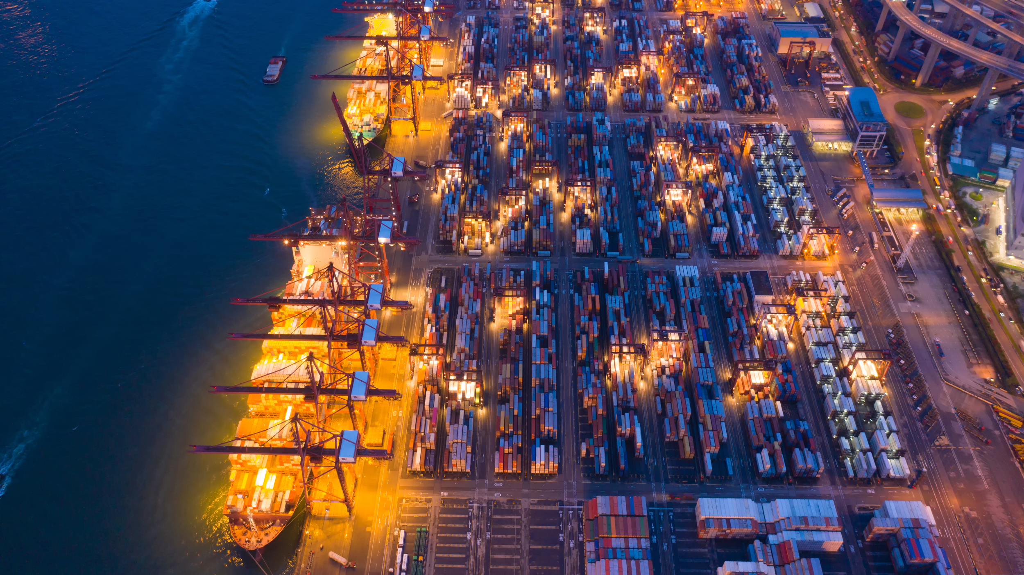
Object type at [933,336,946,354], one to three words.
vehicle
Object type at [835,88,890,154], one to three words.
building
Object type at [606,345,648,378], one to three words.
container crane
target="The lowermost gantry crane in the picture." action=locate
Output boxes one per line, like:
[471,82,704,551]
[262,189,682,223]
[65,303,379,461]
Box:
[185,411,396,521]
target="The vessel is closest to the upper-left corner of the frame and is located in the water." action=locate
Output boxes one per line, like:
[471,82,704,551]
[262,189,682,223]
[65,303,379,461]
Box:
[264,55,287,84]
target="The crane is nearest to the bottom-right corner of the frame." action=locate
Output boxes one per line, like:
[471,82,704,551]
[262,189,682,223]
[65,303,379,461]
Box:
[846,350,896,384]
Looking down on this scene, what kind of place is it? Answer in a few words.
port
